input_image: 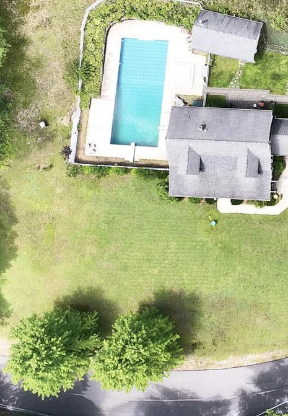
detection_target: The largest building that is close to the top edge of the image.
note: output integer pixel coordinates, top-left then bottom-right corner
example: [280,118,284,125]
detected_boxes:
[192,9,264,64]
